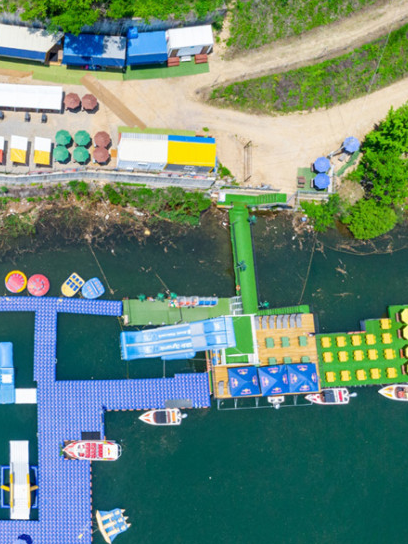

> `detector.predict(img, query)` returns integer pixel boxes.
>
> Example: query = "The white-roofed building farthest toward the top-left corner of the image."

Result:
[0,24,64,67]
